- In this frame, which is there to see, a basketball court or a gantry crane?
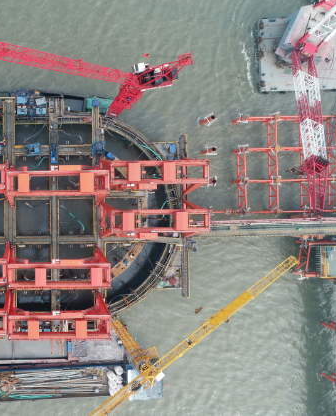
gantry crane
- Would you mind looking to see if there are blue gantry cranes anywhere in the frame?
No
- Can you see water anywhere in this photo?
Yes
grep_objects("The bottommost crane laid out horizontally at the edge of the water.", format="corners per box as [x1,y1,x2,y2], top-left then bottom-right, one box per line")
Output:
[7,293,112,342]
